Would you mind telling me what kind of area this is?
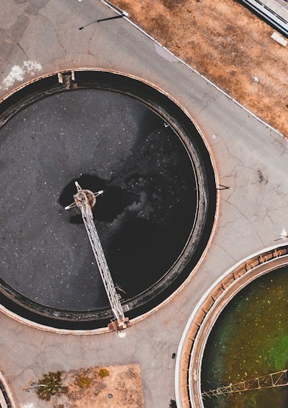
industrial area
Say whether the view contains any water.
Yes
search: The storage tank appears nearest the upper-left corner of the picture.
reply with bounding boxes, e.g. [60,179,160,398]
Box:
[0,67,221,334]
